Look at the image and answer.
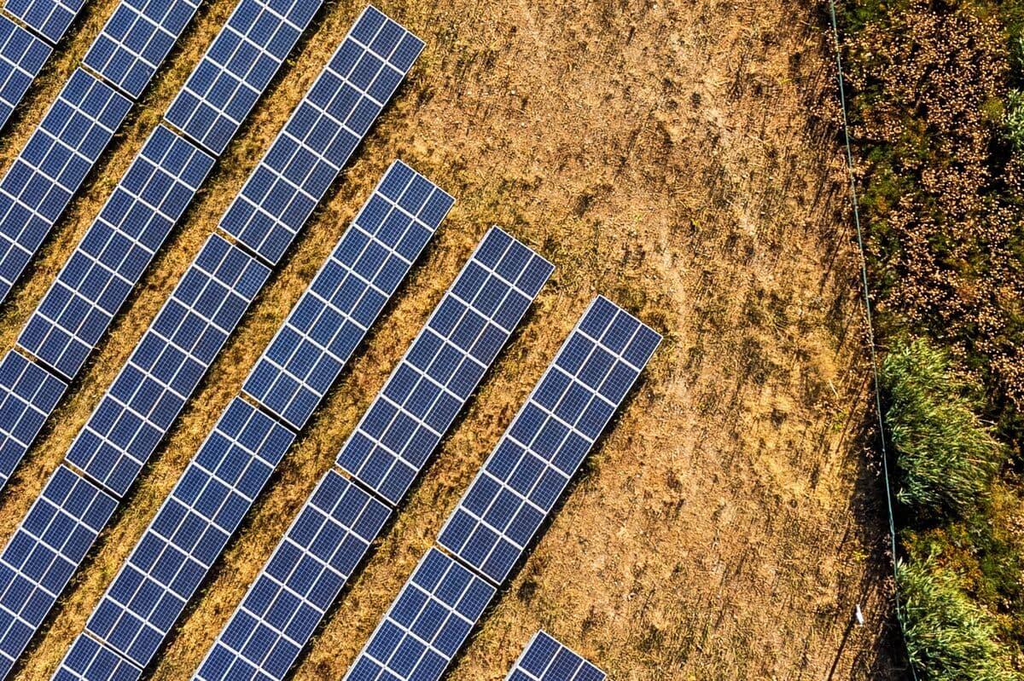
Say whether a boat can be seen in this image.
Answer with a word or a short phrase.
No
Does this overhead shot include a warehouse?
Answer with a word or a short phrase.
No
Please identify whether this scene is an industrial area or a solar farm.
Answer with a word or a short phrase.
solar farm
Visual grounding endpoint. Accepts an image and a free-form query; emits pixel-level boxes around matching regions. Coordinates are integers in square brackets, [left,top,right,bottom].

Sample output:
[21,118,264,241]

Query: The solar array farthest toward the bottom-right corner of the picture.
[503,627,606,681]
